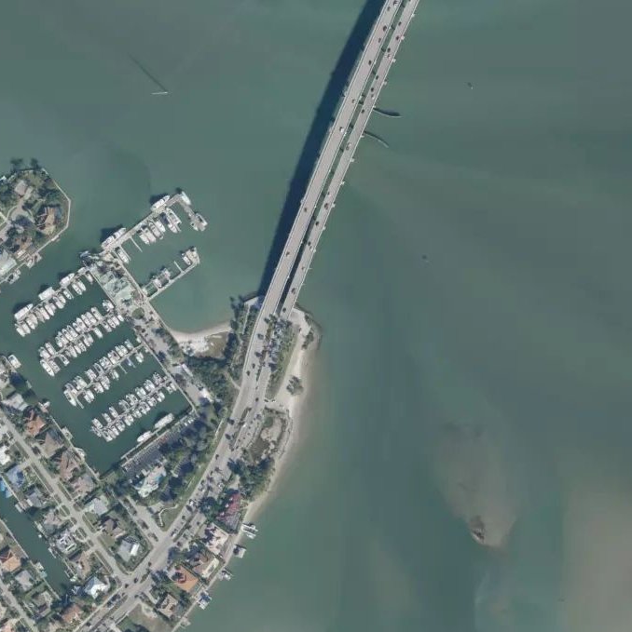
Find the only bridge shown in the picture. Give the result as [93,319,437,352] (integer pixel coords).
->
[264,0,402,312]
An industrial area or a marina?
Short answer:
marina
